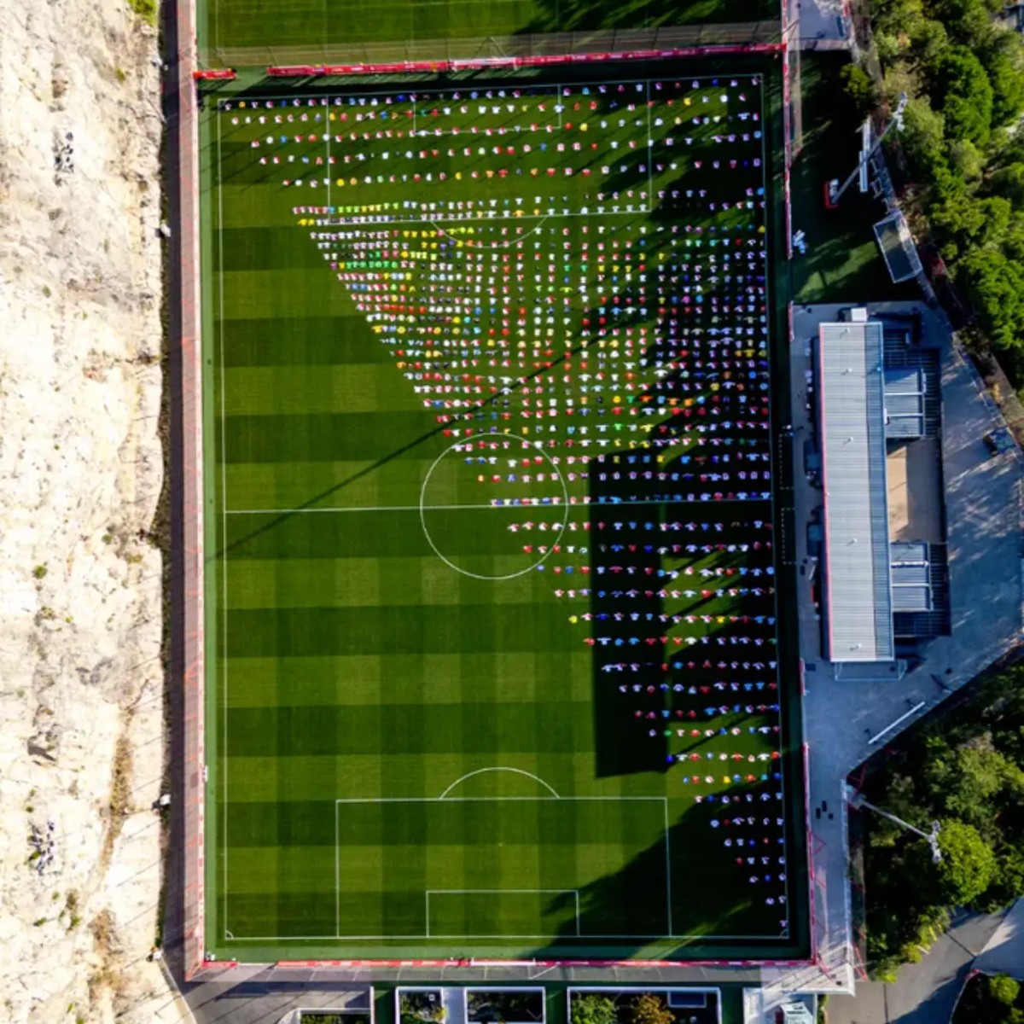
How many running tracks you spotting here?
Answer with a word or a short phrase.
none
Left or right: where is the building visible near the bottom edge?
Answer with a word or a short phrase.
right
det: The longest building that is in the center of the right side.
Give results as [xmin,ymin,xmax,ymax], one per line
[804,307,949,663]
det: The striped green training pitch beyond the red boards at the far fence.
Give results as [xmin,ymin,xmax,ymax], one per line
[196,0,783,78]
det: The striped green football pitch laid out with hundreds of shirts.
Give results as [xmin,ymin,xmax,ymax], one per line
[197,51,811,962]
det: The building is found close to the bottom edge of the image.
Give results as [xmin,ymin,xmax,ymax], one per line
[739,981,820,1024]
